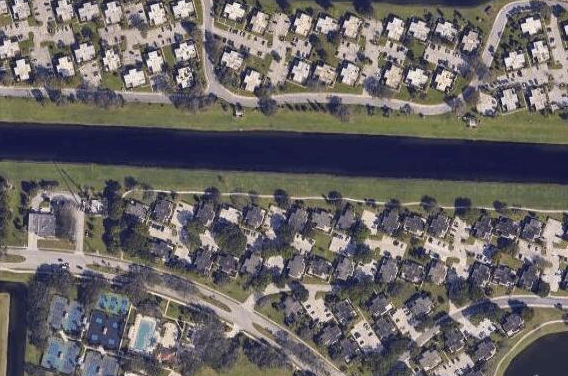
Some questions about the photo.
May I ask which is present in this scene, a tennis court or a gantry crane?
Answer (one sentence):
The one in the frame is a tennis court.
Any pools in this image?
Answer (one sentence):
Yes, looking at the shot, I can spot a pool.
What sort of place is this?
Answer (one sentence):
This image shows a residential area.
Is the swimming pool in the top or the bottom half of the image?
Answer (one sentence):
Seen from above, the swimming pool lies in the bottom half of the view.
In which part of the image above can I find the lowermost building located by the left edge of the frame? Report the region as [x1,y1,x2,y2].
[28,213,56,237]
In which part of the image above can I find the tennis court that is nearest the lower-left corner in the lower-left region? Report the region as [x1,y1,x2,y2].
[42,337,81,373]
